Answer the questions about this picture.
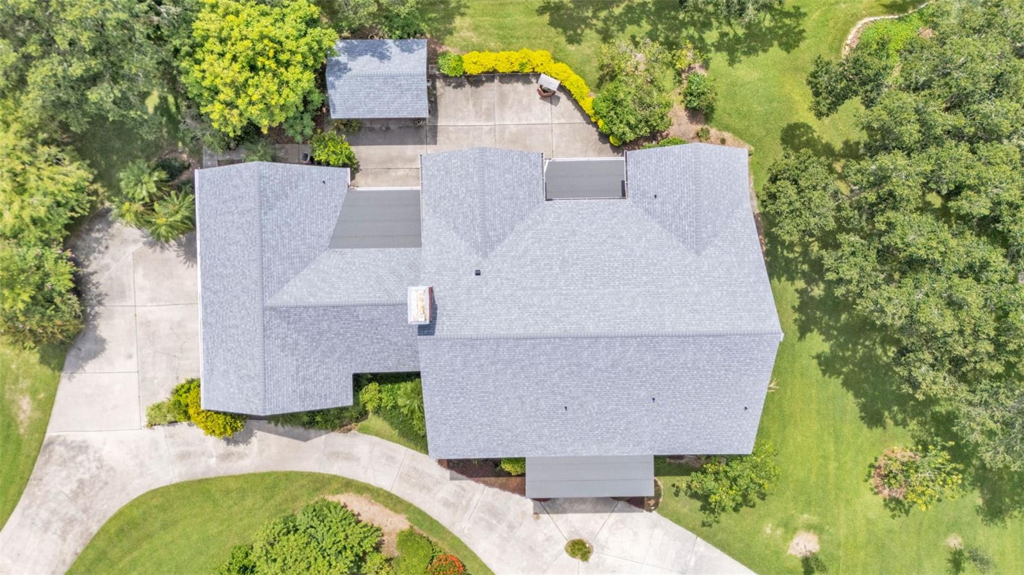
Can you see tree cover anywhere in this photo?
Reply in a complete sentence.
Yes, there's tree cover in this view.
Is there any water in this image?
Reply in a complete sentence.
No, the picture contains no water.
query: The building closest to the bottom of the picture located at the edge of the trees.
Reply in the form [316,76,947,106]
[195,142,783,499]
